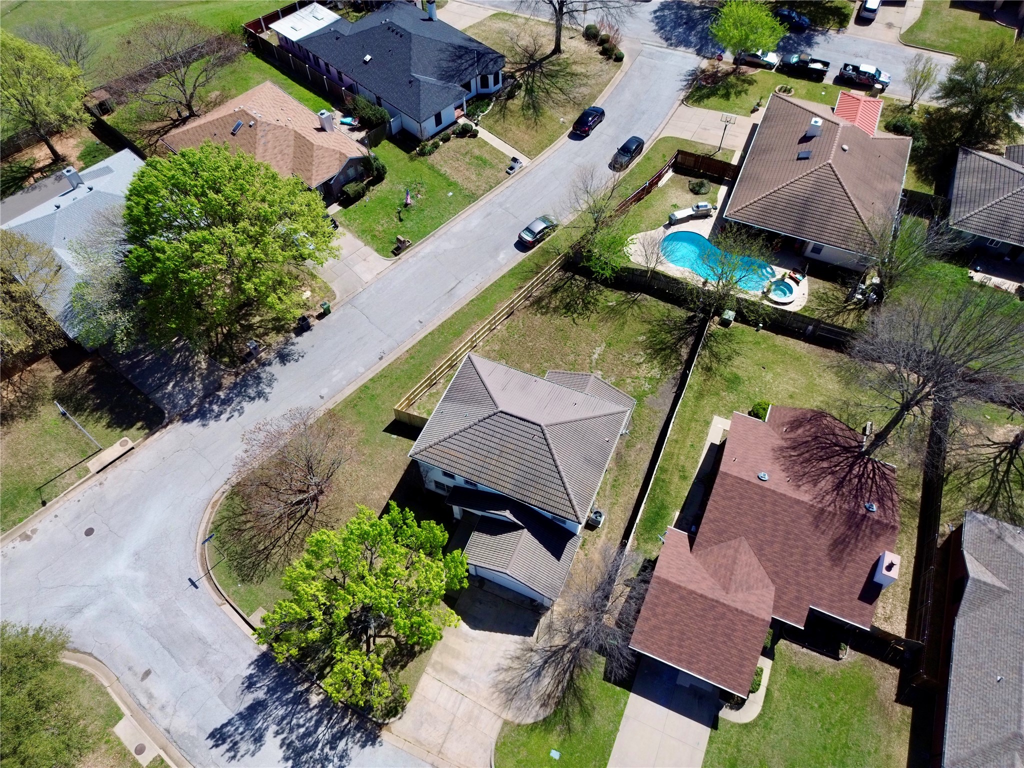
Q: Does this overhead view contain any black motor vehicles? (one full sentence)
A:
Yes, a black motor vehicle appears in the view.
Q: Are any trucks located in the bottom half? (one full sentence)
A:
No, I can find no truck in the bottom half.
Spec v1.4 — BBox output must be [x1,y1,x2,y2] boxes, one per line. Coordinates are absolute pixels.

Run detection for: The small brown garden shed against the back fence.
[78,91,117,125]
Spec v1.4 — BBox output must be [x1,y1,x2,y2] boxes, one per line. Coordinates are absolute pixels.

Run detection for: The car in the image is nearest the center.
[516,216,559,250]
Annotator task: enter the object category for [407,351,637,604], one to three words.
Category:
house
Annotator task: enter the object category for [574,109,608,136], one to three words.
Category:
car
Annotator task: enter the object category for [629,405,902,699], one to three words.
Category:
house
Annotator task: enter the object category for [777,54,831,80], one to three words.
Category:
truck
